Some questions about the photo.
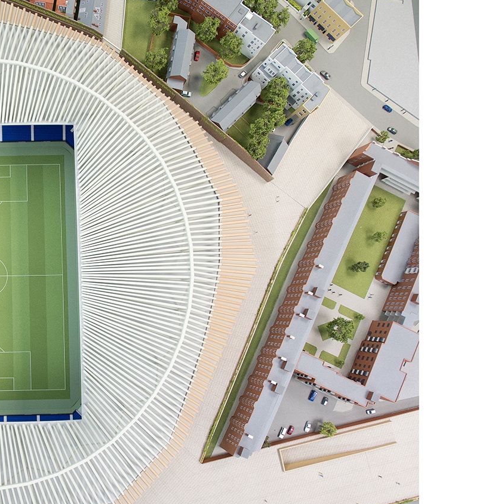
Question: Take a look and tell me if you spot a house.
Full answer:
Yes, this view includes a house.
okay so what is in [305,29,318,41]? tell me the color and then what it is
green vehicle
